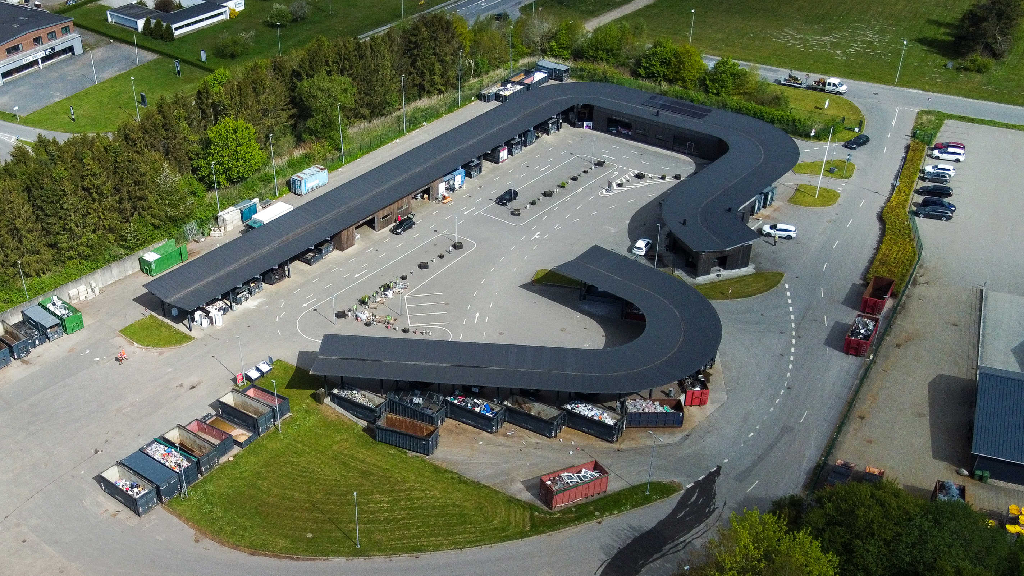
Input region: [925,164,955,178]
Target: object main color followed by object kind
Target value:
white car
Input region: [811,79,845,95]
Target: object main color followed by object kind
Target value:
white vehicle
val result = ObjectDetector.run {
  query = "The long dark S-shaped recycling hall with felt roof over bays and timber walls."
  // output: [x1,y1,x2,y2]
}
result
[143,78,799,331]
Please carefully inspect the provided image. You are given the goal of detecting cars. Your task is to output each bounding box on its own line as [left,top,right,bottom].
[497,189,520,205]
[925,172,949,185]
[936,140,964,151]
[391,211,417,234]
[933,148,962,162]
[764,224,795,240]
[921,186,952,200]
[925,164,955,178]
[847,134,870,149]
[924,199,956,213]
[917,207,950,221]
[632,238,651,255]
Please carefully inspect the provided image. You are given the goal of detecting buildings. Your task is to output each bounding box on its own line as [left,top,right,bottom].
[968,290,1024,483]
[0,0,83,84]
[143,78,799,331]
[107,0,246,39]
